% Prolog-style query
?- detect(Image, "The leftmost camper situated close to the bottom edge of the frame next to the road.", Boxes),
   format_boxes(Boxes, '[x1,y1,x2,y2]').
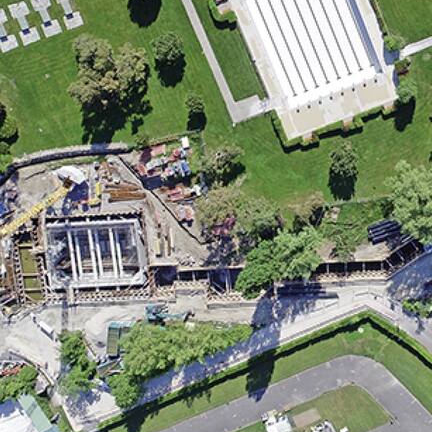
[266,409,289,432]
